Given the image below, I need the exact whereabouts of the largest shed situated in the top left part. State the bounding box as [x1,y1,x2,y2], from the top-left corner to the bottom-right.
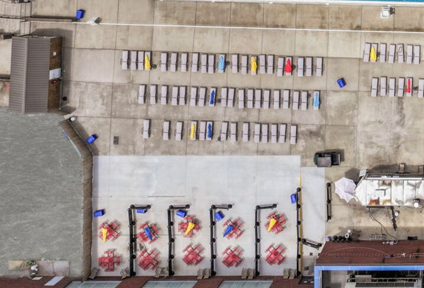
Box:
[10,36,64,113]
